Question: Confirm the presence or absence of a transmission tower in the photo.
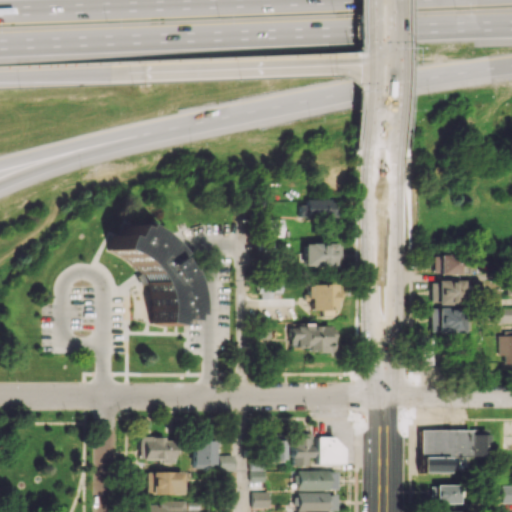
No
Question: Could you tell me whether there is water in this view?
No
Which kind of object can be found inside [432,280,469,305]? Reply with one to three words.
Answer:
house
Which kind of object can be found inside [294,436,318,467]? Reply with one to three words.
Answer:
building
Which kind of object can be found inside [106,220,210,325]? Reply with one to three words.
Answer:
building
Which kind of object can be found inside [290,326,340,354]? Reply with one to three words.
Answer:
house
